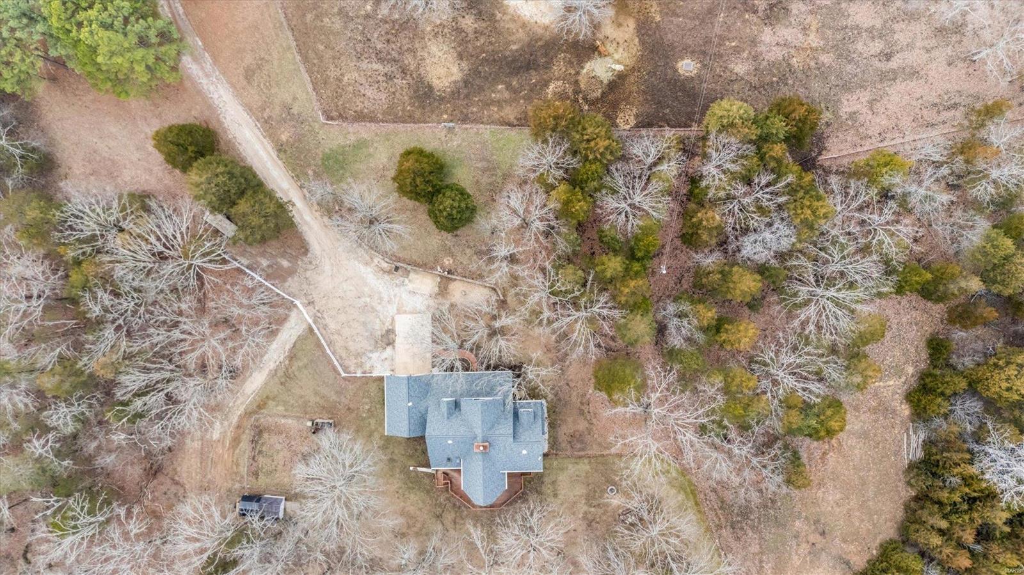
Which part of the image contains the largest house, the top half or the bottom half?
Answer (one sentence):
The bottom half of the photo is where the largest house is.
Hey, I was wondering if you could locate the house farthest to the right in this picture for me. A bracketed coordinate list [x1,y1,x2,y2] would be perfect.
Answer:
[384,371,546,510]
